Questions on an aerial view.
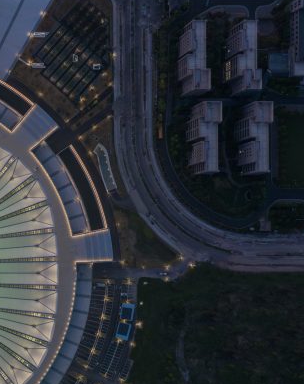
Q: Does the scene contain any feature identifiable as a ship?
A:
No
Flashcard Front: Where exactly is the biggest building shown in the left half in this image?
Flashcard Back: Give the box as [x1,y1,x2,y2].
[93,143,117,192]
